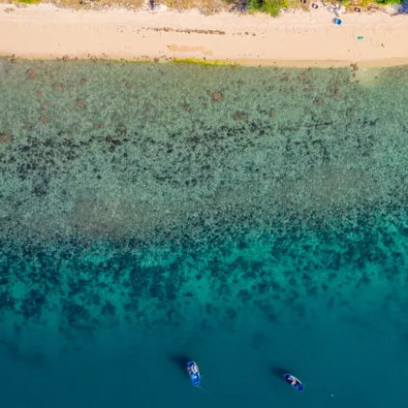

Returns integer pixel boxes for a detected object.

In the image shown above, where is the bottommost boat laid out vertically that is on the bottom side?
[186,360,200,389]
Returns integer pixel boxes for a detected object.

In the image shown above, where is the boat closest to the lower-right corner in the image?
[283,373,303,392]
